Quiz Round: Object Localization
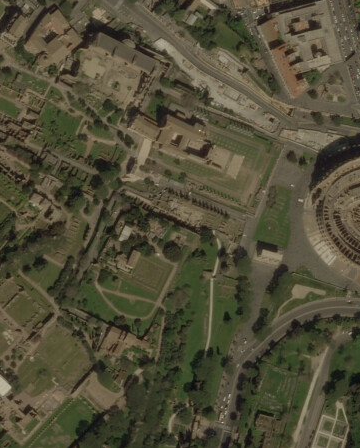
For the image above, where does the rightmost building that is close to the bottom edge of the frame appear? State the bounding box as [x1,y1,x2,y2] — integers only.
[255,416,281,448]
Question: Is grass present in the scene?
Yes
